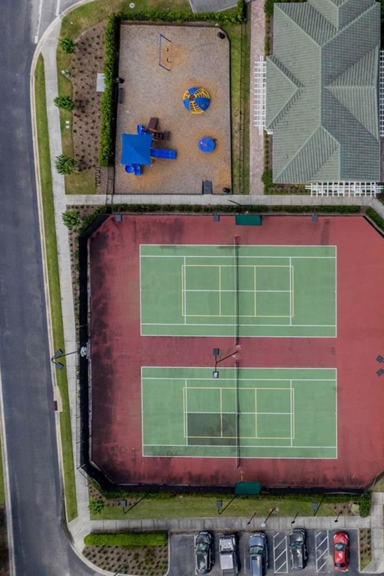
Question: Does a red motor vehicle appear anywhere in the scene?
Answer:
Yes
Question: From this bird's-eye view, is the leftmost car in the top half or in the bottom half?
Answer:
bottom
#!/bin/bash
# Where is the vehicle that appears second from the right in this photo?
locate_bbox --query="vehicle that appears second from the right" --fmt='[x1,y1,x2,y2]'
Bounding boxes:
[287,527,309,569]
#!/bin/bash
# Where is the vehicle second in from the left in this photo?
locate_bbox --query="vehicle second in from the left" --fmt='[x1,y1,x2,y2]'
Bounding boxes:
[218,531,239,576]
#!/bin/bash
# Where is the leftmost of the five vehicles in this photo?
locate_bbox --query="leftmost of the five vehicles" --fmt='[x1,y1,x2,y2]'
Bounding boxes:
[193,531,215,573]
